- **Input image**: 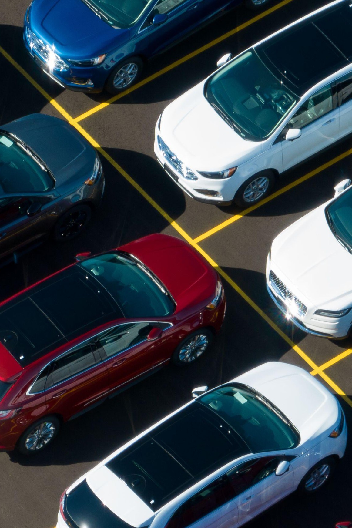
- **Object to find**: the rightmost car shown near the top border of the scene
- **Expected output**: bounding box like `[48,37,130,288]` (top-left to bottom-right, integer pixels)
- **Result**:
[156,0,352,208]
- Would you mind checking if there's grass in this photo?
No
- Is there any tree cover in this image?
No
